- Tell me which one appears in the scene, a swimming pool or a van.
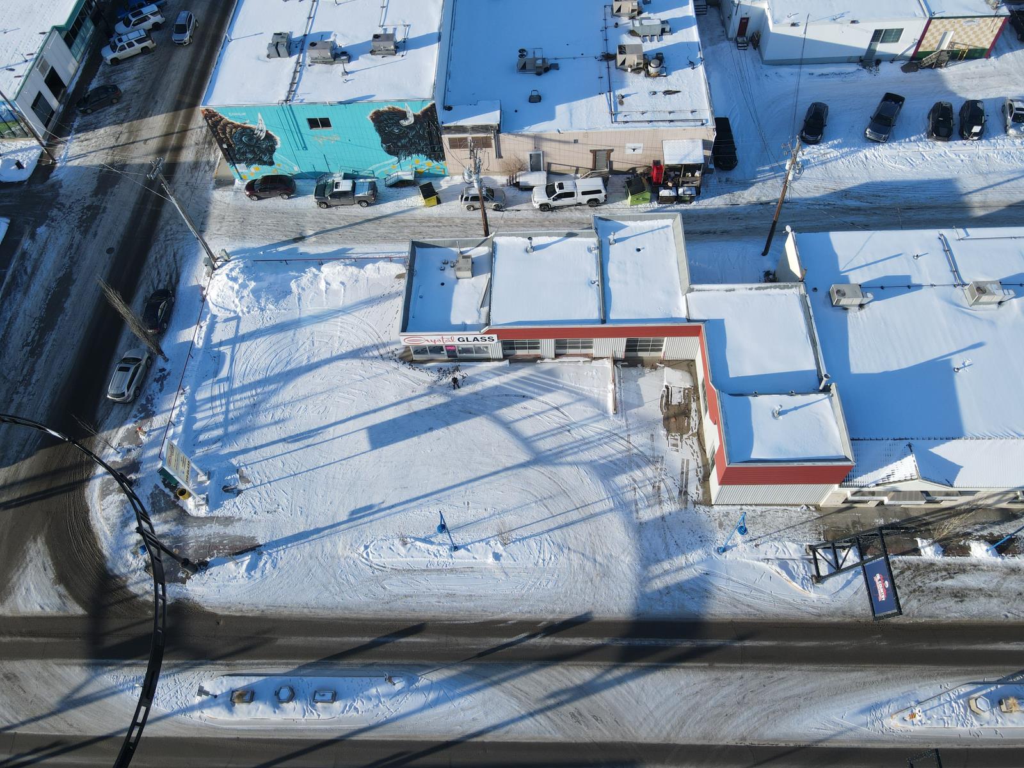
van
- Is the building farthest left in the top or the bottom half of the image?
top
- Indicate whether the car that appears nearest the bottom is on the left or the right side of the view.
left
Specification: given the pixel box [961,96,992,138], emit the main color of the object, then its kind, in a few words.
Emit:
black car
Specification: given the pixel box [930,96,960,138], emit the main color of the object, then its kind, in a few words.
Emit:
black car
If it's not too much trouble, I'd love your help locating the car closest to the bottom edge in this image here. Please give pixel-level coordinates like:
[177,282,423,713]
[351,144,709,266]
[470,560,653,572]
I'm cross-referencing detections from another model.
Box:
[105,346,150,402]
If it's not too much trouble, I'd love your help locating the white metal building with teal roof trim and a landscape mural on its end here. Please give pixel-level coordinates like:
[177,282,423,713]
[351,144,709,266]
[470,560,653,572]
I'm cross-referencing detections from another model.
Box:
[0,0,114,144]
